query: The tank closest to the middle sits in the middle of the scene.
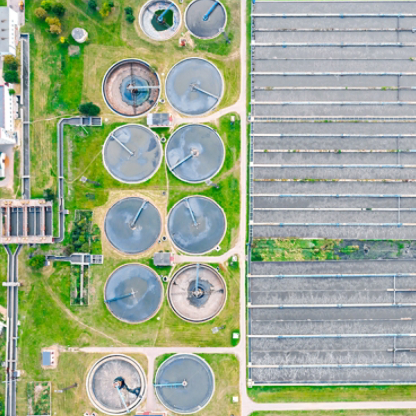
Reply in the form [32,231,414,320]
[166,195,226,255]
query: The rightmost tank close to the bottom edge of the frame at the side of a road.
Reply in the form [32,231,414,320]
[153,353,215,415]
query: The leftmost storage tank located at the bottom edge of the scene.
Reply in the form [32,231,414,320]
[85,354,148,415]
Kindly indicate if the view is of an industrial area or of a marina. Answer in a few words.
industrial area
